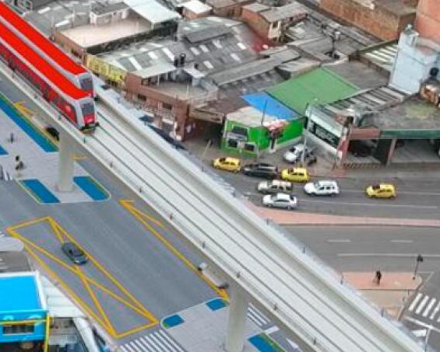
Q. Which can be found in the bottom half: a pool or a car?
car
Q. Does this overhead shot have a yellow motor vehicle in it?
Yes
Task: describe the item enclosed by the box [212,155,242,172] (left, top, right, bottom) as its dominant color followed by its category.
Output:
yellow car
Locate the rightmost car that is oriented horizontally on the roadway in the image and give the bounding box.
[363,183,396,199]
